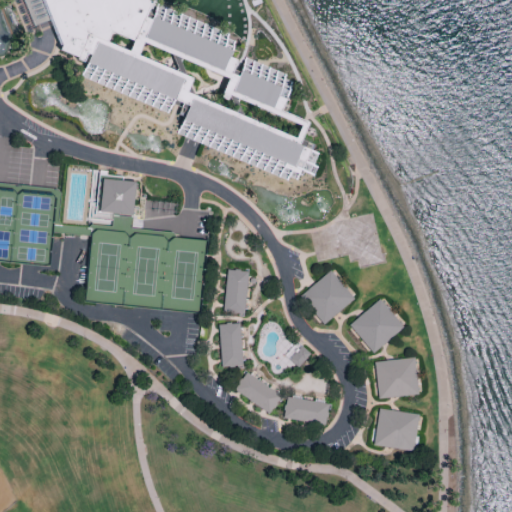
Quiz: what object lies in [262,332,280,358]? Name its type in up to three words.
swimming pool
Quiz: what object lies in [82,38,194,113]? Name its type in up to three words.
building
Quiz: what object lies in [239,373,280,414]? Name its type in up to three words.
house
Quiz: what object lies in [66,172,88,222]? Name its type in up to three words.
swimming pool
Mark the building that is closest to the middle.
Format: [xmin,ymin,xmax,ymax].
[224,268,251,316]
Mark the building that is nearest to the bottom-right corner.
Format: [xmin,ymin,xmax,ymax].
[372,409,424,450]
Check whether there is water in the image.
Yes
